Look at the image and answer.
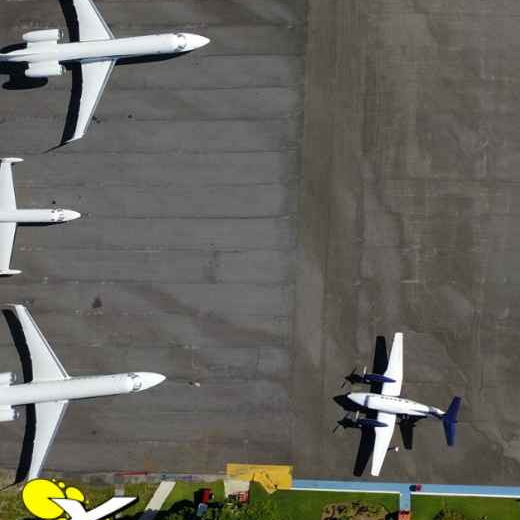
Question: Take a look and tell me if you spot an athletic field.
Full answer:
No, I can't see a single athletic field in this photo.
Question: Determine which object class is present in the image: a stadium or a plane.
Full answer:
Visible in the photo is a plane.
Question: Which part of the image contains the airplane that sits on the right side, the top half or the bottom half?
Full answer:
It is in the bottom half that the airplane that sits on the right side appears.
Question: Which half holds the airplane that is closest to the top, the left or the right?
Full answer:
The airplane that is closest to the top is on the left side of the image.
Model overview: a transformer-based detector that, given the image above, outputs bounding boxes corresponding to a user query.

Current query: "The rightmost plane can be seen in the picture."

[348,333,461,474]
